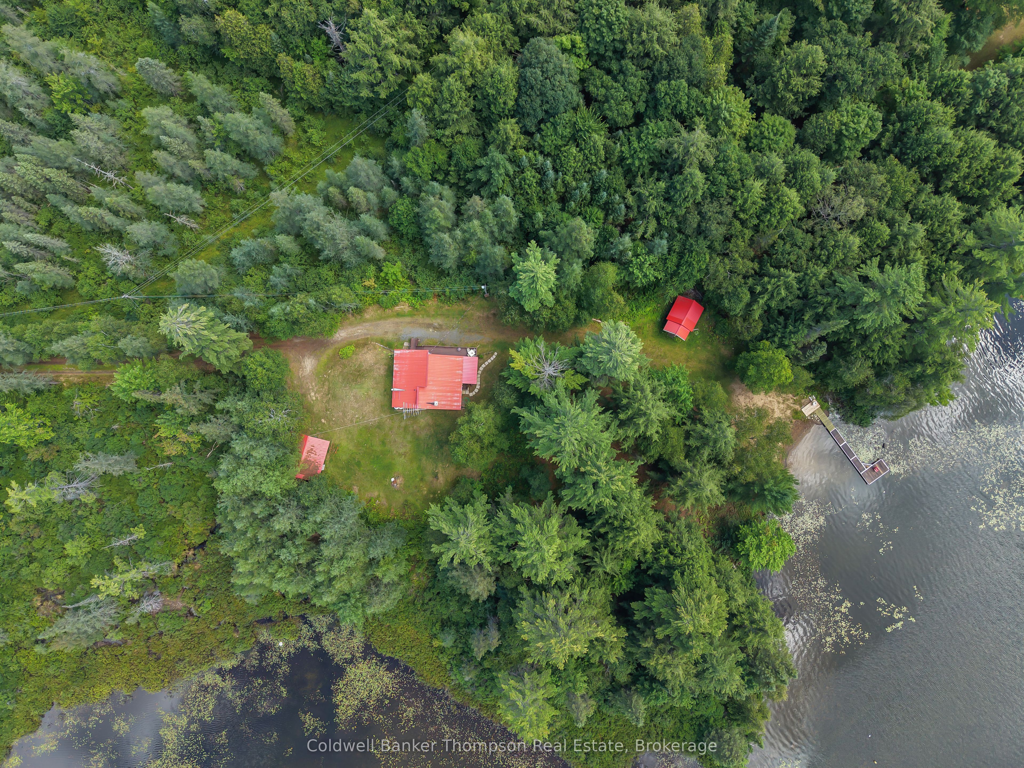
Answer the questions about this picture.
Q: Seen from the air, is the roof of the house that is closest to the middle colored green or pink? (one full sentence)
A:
The roof of the house that is closest to the middle looks pink in the image.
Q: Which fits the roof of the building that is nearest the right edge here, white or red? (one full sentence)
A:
The color of the roof of the building that is nearest the right edge is red.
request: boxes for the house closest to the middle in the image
[391,349,478,410]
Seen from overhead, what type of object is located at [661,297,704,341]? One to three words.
building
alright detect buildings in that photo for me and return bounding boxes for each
[293,436,331,483]
[661,297,704,341]
[391,349,478,410]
